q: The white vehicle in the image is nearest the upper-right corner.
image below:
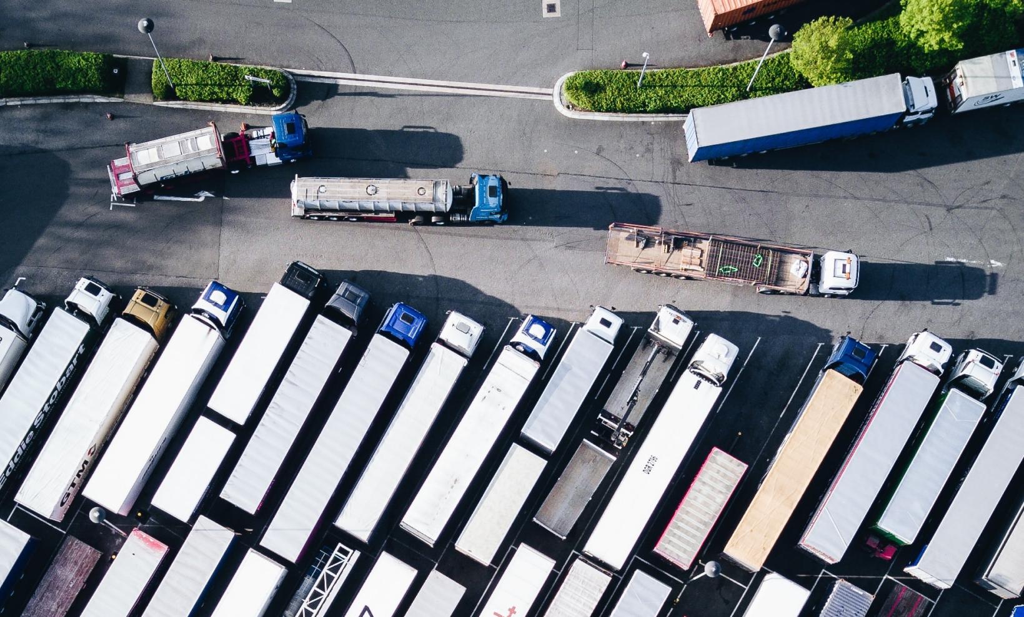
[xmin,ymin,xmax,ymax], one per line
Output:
[929,48,1024,117]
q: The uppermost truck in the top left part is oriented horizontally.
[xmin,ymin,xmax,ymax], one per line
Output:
[112,109,312,193]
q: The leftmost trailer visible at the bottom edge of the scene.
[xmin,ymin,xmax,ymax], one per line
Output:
[0,519,41,613]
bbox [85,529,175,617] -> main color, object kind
white trailer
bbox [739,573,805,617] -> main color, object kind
white trailer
